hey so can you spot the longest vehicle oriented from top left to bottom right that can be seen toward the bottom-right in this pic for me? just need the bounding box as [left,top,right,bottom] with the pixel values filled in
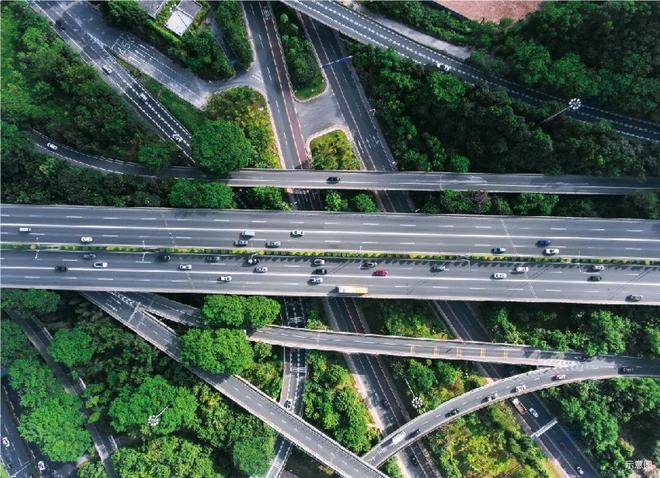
[511,396,528,416]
